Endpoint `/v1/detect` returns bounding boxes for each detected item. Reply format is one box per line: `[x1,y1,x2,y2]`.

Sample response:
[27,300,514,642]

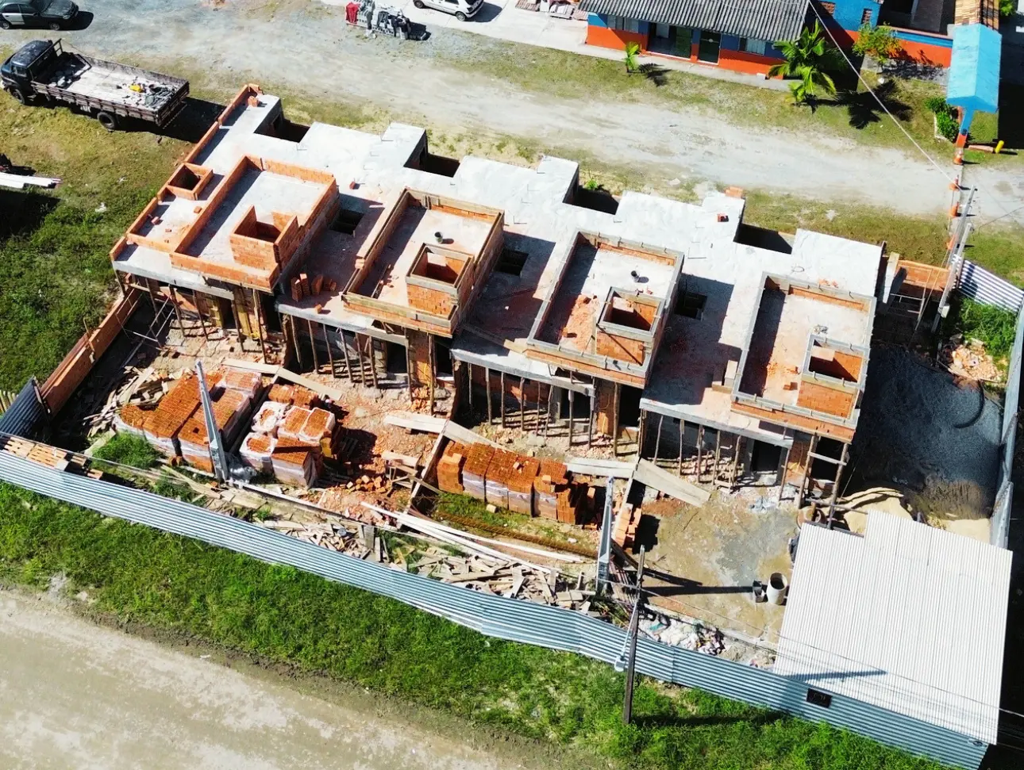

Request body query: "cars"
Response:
[416,0,487,21]
[0,0,79,30]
